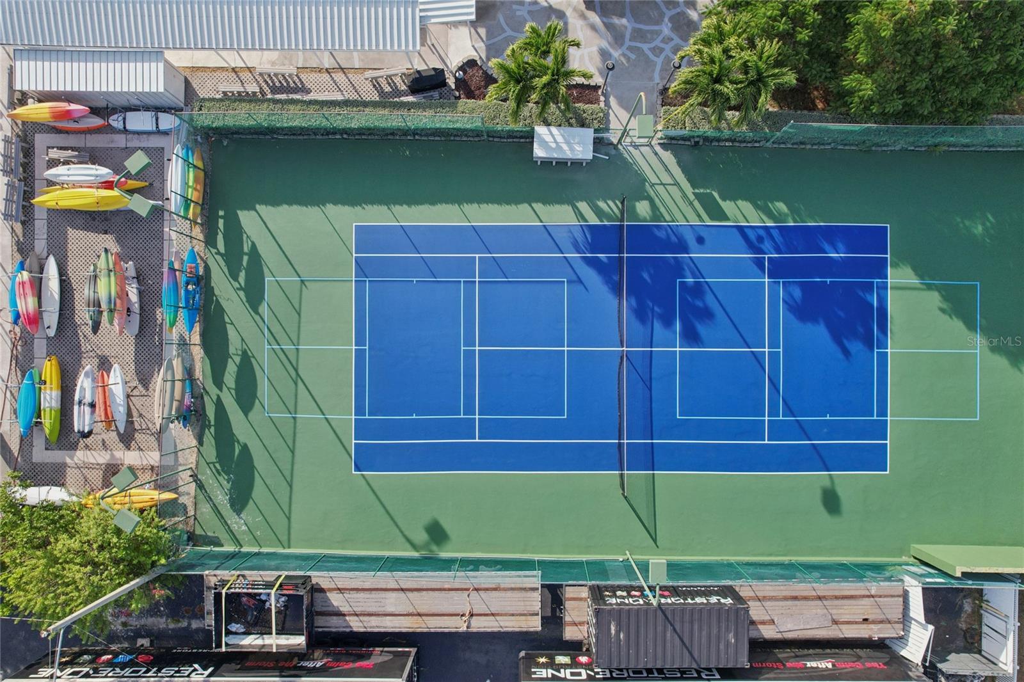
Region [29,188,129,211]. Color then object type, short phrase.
yellow boat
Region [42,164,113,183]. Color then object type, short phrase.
white boat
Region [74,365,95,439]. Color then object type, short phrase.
white boat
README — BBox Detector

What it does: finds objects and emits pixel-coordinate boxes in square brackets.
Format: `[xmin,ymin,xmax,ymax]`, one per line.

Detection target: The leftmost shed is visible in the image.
[14,52,187,106]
